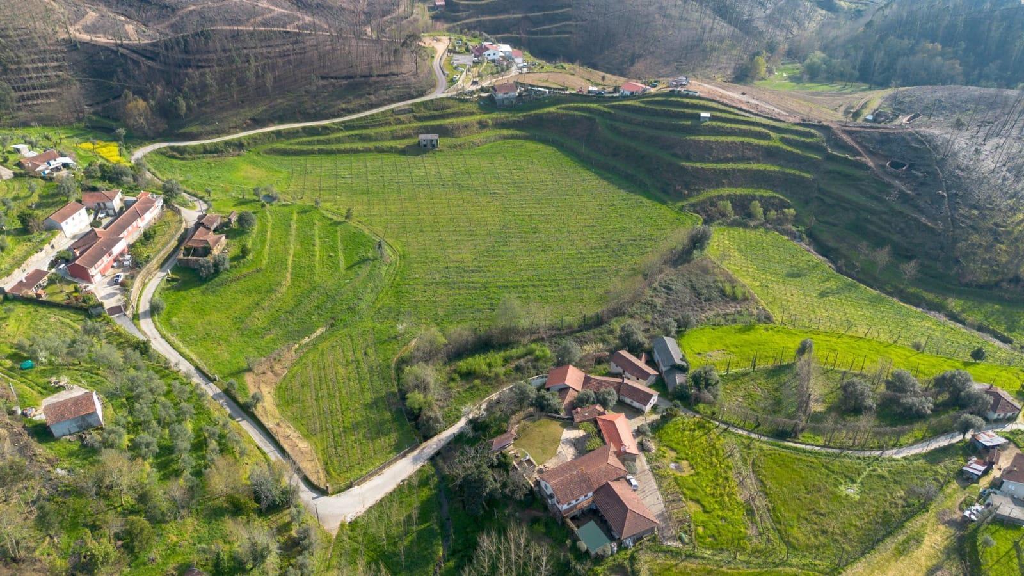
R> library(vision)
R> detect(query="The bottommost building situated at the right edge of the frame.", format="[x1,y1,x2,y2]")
[990,485,1024,538]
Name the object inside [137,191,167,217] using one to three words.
house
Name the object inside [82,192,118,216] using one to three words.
house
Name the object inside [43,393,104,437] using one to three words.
barn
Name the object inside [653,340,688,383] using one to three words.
barn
